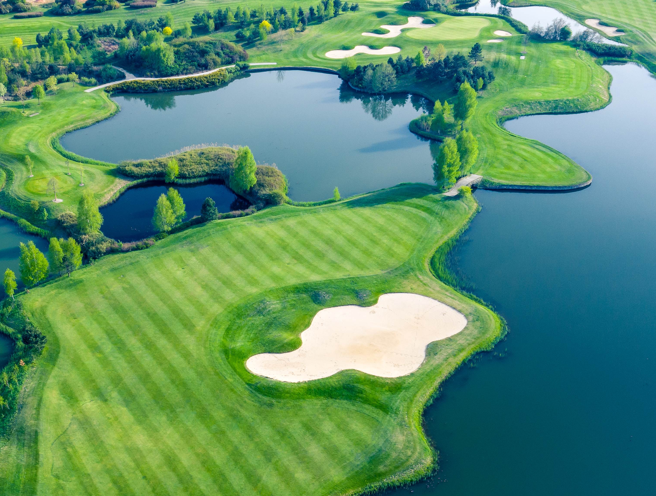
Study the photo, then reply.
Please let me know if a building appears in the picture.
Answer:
No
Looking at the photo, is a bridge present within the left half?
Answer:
No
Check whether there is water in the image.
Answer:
Yes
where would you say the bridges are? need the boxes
[438,170,485,200]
